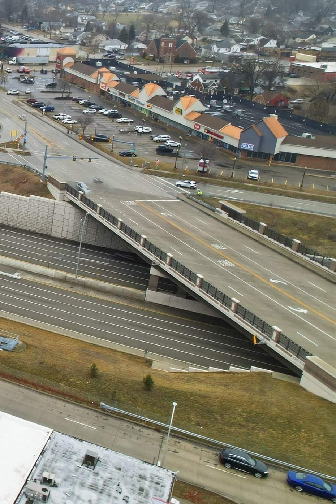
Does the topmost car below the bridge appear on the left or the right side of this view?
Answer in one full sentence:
You can find the topmost car below the bridge on the right side of the picture.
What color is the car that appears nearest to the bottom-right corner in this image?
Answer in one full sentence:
The car that appears nearest to the bottom-right corner looks blue in the image.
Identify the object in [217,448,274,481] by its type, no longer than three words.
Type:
car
